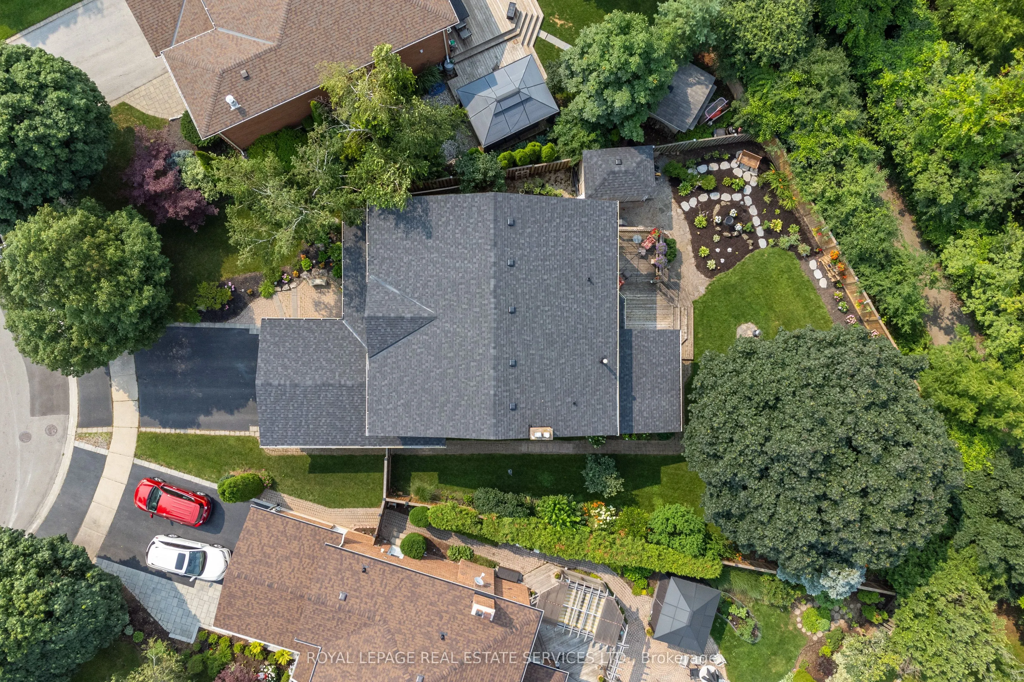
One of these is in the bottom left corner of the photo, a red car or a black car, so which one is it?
red car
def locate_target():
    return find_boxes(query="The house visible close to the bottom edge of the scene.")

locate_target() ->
[213,497,571,682]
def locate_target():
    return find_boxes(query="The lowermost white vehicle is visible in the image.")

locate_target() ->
[144,532,231,583]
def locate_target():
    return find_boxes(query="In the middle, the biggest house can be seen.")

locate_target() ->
[254,192,684,449]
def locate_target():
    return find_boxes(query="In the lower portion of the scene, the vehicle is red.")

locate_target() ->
[133,476,216,528]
